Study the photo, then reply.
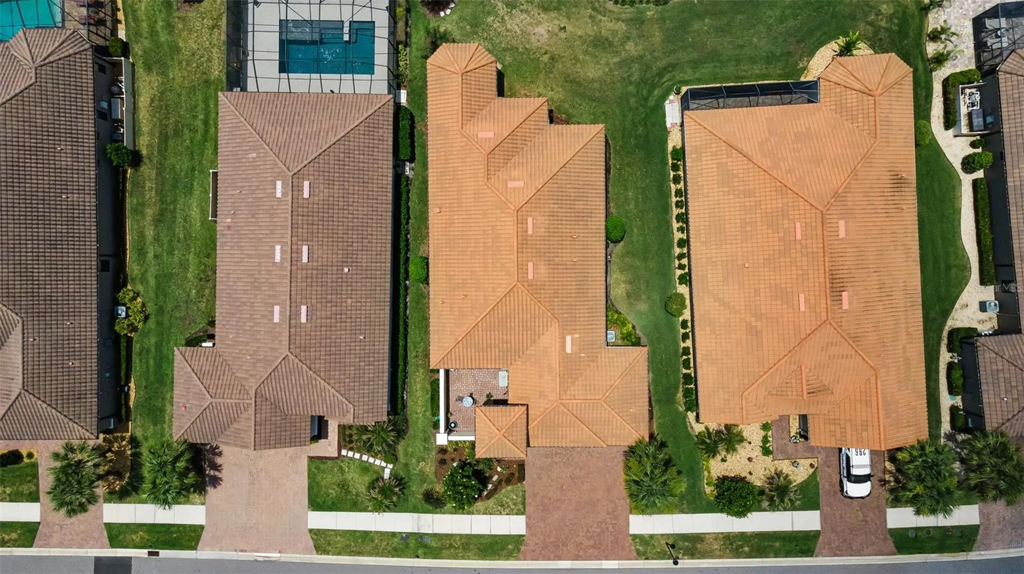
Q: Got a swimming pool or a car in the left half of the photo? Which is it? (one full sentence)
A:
Visible in the left half of the photo is a swimming pool.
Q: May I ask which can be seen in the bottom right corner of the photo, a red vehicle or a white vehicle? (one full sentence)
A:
You can see a white vehicle in the bottom right corner of the photo.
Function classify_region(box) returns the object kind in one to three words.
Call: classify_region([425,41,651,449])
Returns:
house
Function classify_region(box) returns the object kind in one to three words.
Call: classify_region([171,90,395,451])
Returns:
house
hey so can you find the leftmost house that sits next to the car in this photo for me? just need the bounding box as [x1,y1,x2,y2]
[682,51,929,451]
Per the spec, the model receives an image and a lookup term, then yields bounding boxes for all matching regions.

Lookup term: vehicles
[836,448,874,501]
